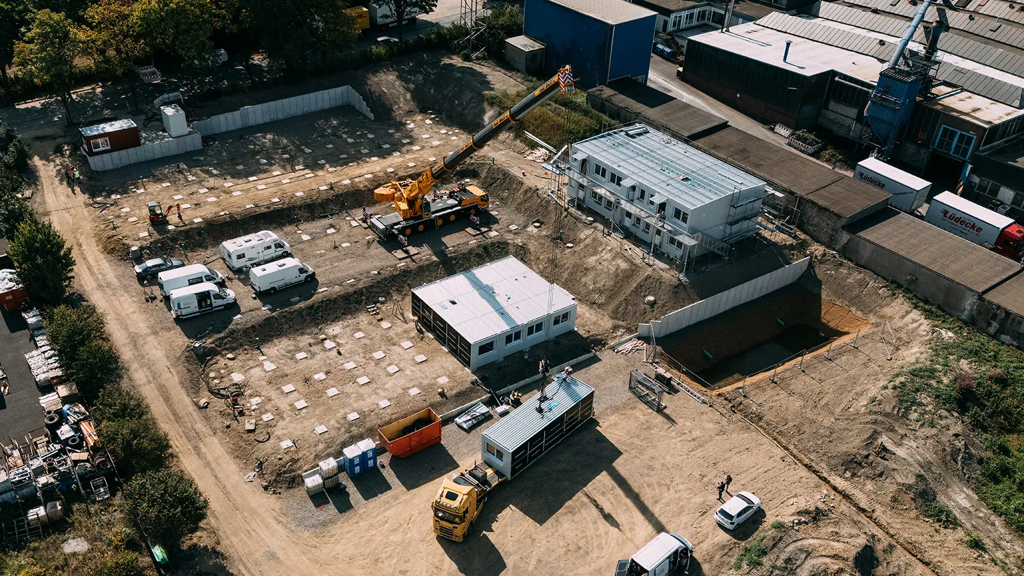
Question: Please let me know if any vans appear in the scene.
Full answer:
Yes, the frame does contain a van.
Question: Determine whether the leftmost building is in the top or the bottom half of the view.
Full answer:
Seen from above, the leftmost building lies in the top half of the view.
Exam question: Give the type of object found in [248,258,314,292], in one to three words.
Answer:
van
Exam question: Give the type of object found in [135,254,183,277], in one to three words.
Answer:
car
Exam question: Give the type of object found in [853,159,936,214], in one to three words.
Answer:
trailer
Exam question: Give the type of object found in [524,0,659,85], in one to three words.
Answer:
building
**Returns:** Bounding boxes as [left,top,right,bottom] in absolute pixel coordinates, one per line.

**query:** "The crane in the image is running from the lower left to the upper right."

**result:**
[364,63,572,249]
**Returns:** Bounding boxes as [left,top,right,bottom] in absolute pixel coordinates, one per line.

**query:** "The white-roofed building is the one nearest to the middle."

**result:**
[408,257,577,375]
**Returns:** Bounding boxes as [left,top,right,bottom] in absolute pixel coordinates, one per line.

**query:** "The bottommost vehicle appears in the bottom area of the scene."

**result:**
[614,530,692,576]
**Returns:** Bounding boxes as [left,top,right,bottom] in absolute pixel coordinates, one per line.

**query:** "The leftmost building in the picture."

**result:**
[78,119,141,157]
